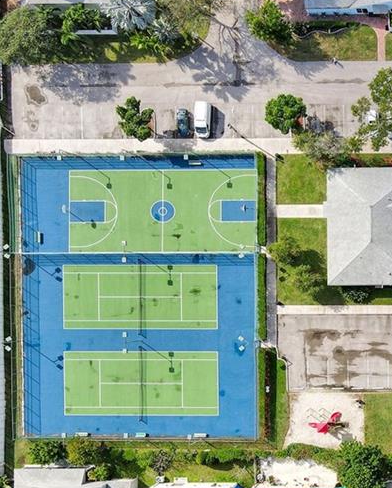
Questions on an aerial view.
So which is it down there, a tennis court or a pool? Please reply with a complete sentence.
Of the two, only a tennis court appears.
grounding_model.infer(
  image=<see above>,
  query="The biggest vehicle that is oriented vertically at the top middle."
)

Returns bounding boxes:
[194,100,212,140]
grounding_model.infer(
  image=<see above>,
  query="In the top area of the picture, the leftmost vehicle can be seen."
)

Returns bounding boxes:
[176,108,191,137]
